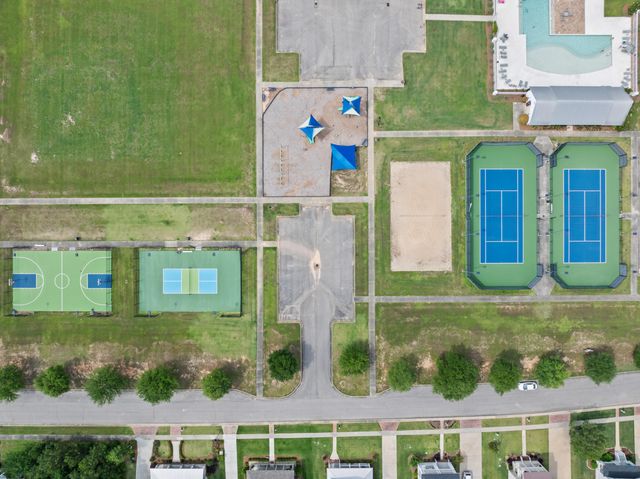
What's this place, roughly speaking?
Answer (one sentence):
The picture captures a sports ground.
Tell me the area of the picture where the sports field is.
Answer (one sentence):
The sports field sits in the top left section of the image.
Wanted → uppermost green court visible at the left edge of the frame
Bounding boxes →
[12,251,111,311]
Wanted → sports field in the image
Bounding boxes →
[0,0,255,197]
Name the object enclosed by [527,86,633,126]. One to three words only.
building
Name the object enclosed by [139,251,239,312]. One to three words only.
sports court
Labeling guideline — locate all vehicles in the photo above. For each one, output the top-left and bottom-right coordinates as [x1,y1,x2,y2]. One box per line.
[462,470,471,479]
[519,380,539,390]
